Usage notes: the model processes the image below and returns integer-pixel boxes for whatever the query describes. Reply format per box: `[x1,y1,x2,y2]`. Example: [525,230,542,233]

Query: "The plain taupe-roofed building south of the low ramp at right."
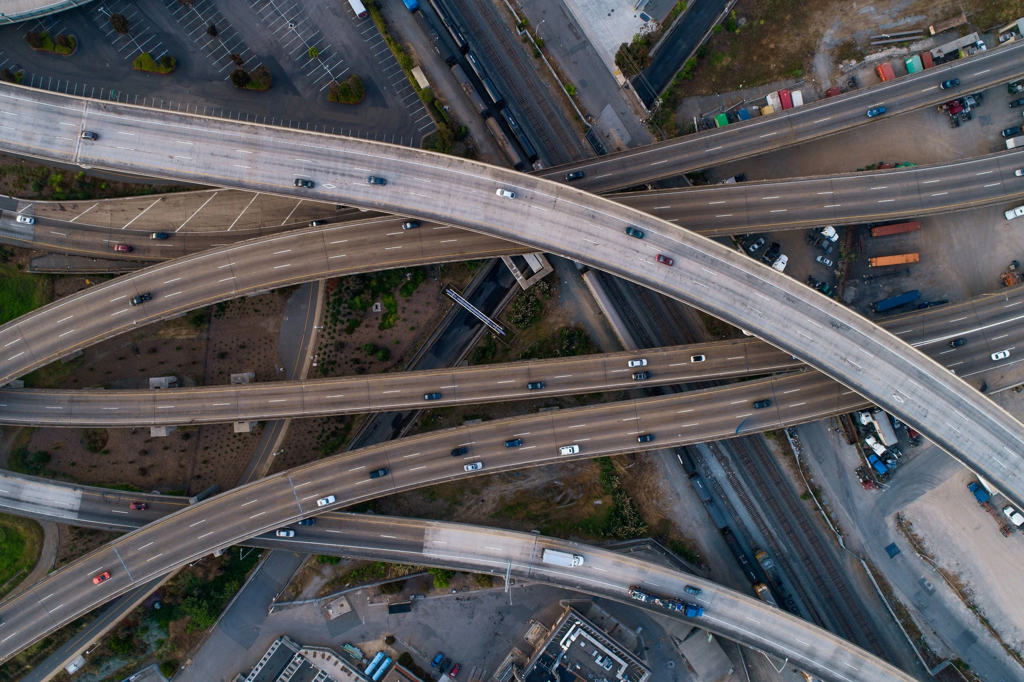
[674,623,734,680]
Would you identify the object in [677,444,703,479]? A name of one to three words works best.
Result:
rail car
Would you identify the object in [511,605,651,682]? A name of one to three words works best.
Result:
building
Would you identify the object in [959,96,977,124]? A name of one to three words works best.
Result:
vehicle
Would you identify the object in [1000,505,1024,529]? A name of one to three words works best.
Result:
truck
